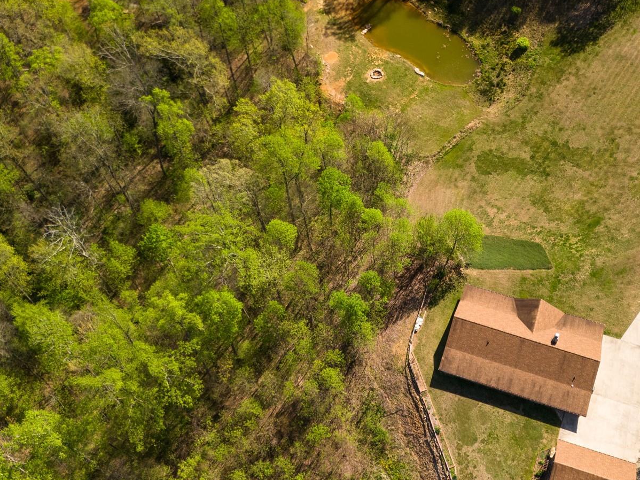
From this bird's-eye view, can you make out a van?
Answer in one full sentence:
No, this view has no van in it.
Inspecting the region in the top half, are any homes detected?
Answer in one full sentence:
No, there is no home in the top half.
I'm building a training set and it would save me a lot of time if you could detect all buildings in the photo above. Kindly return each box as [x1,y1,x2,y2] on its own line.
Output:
[549,439,637,480]
[438,284,604,418]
